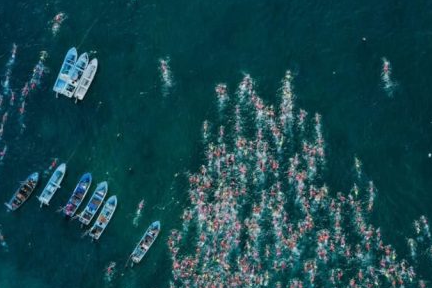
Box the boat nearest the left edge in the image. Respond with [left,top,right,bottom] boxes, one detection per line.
[2,171,37,211]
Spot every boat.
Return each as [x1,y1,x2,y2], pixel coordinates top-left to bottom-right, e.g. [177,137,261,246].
[63,51,86,97]
[129,219,160,264]
[76,180,106,225]
[50,45,74,92]
[35,162,65,206]
[60,171,90,217]
[86,195,116,240]
[73,57,96,101]
[2,171,37,211]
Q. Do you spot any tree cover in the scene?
No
